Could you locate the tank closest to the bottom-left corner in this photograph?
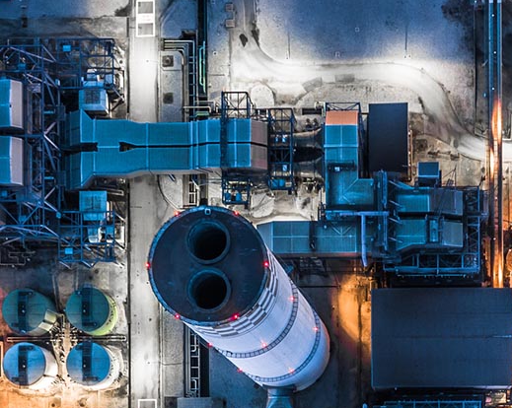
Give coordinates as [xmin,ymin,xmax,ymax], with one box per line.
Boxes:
[0,342,61,393]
